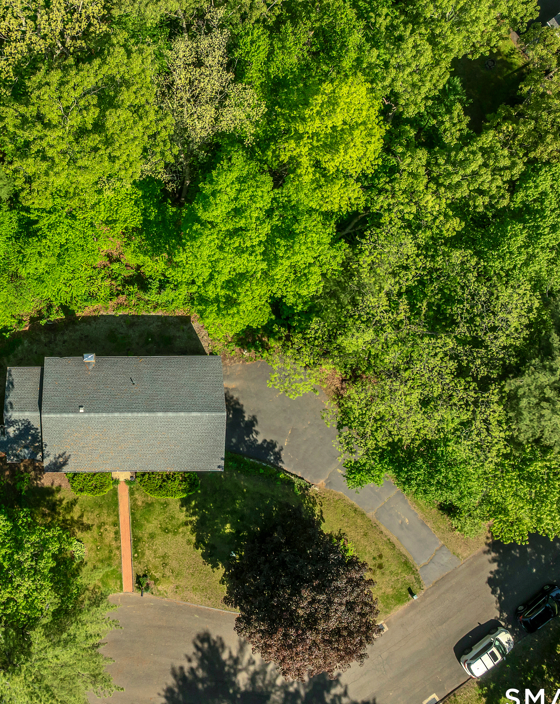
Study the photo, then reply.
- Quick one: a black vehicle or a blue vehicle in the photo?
black vehicle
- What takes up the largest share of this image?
trees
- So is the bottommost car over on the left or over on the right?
right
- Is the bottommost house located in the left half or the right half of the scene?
left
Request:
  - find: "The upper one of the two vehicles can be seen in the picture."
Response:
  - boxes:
[515,586,560,633]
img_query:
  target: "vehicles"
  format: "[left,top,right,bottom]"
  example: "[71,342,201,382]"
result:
[515,586,560,633]
[461,627,514,679]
